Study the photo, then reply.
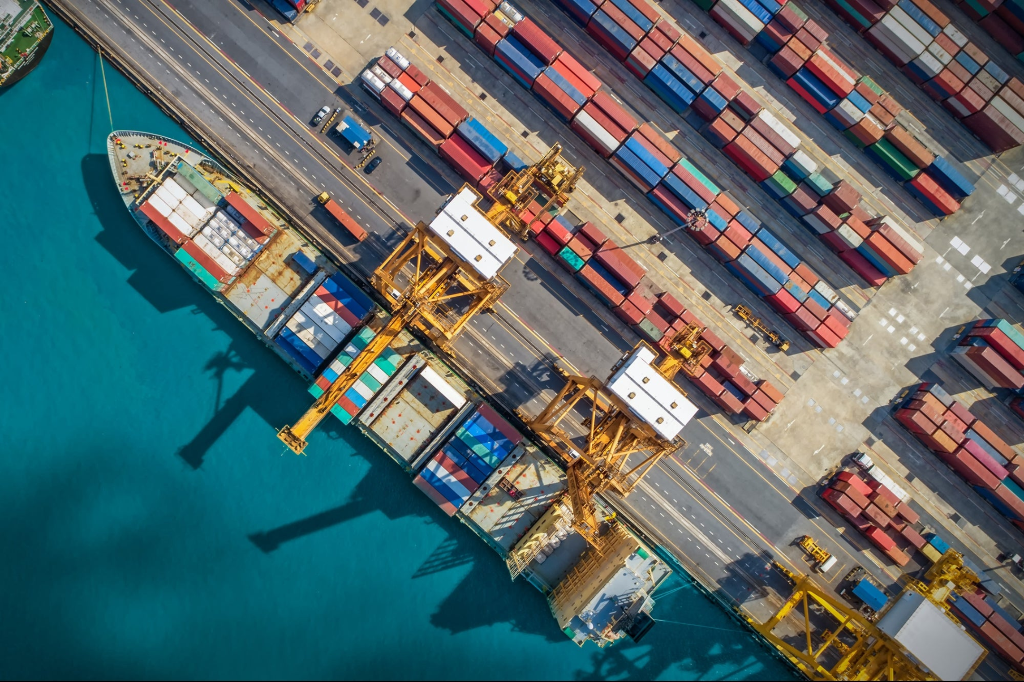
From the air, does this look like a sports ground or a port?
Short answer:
port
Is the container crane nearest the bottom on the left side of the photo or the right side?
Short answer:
right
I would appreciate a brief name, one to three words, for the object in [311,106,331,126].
vehicle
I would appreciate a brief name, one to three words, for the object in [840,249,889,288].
shipping container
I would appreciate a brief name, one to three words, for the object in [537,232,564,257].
shipping container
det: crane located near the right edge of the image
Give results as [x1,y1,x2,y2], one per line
[750,555,990,682]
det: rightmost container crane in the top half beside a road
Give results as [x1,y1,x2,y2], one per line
[504,137,591,243]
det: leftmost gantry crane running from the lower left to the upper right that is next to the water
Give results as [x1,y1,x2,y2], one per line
[264,165,543,472]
